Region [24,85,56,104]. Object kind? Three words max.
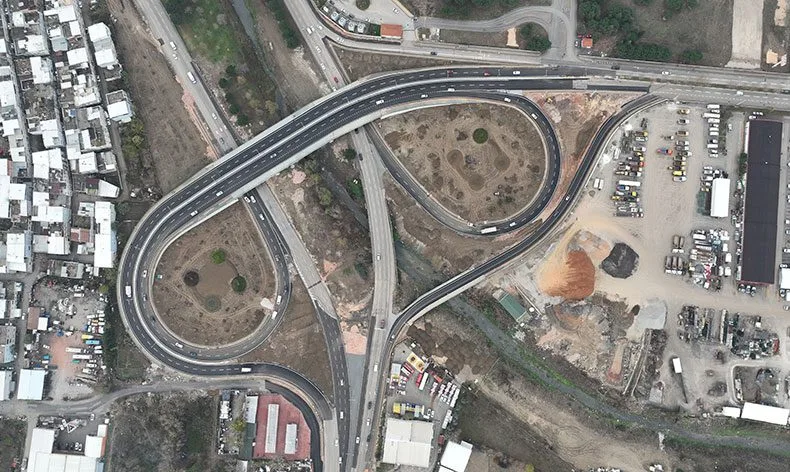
house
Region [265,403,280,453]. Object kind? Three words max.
shed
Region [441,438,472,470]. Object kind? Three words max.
building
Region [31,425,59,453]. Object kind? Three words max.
building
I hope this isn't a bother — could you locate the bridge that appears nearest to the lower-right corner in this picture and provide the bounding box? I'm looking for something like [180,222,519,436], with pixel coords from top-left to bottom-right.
[403,252,507,319]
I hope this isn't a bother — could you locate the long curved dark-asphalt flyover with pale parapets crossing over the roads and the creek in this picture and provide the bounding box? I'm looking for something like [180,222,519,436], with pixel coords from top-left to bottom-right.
[198,69,436,212]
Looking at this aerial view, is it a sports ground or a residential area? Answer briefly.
residential area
